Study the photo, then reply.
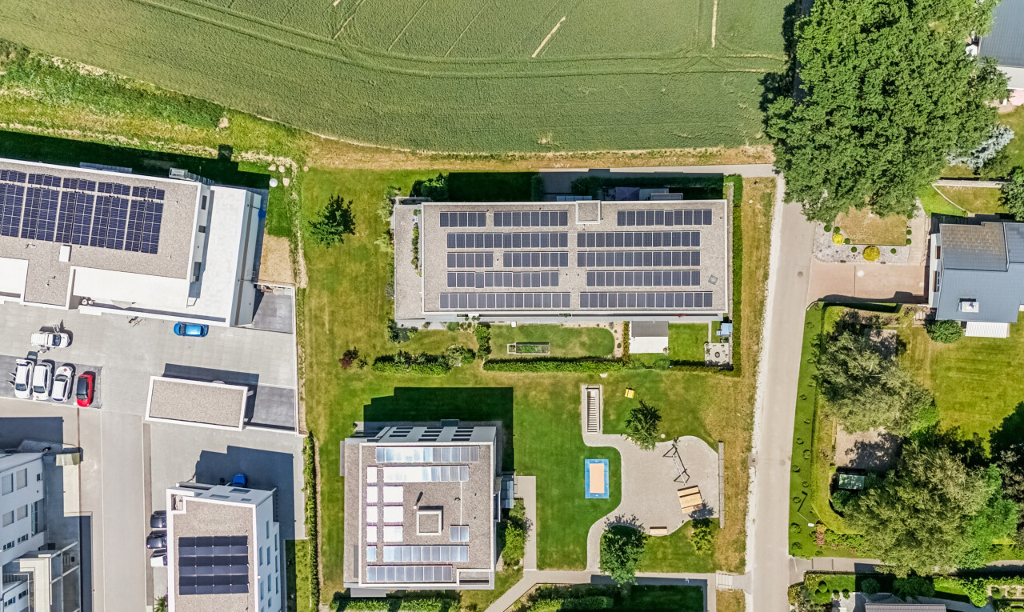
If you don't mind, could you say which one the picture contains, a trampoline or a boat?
trampoline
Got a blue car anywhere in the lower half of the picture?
Yes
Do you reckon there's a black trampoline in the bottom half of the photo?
No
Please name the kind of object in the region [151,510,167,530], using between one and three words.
car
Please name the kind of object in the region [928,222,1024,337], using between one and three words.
house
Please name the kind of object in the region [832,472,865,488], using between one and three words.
shed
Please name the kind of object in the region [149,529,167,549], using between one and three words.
car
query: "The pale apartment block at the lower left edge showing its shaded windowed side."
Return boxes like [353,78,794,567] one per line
[0,453,81,612]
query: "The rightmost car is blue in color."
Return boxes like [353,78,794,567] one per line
[230,471,250,488]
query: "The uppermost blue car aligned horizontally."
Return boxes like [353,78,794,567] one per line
[174,320,211,338]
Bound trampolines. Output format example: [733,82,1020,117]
[584,459,609,499]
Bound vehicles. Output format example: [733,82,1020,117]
[75,373,97,407]
[7,356,36,398]
[151,510,167,530]
[230,471,250,488]
[32,362,56,400]
[52,364,77,403]
[29,325,74,356]
[149,529,167,549]
[174,320,211,338]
